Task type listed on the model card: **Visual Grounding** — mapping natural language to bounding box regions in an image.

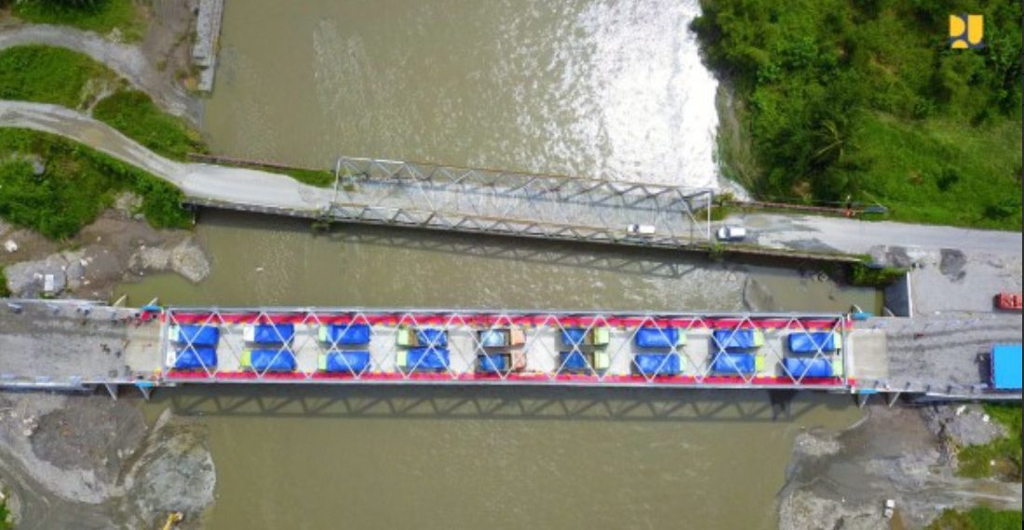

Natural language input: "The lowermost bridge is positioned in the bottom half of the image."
[152,307,858,405]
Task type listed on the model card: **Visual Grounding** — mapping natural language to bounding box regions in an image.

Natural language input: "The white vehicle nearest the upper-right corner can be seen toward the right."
[719,225,747,240]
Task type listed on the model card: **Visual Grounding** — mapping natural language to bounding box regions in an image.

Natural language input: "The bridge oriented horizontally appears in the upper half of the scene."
[327,156,716,259]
